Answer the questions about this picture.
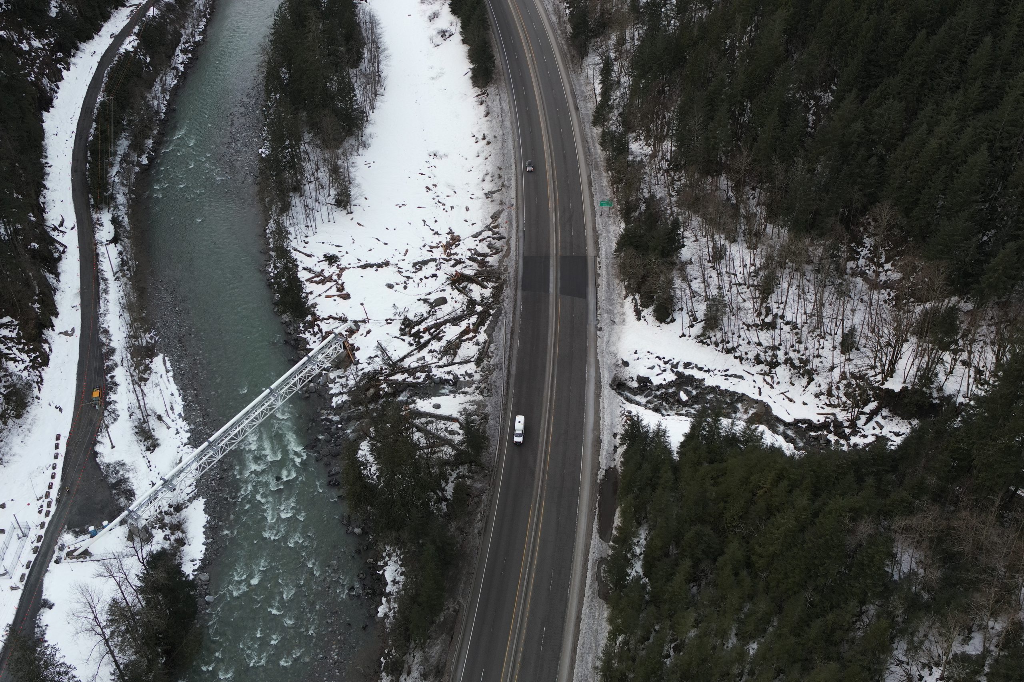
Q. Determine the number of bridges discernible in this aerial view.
1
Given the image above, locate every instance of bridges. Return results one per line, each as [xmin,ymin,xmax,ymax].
[126,332,349,526]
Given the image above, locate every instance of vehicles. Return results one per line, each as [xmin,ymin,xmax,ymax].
[526,160,534,172]
[513,417,524,444]
[87,389,103,410]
